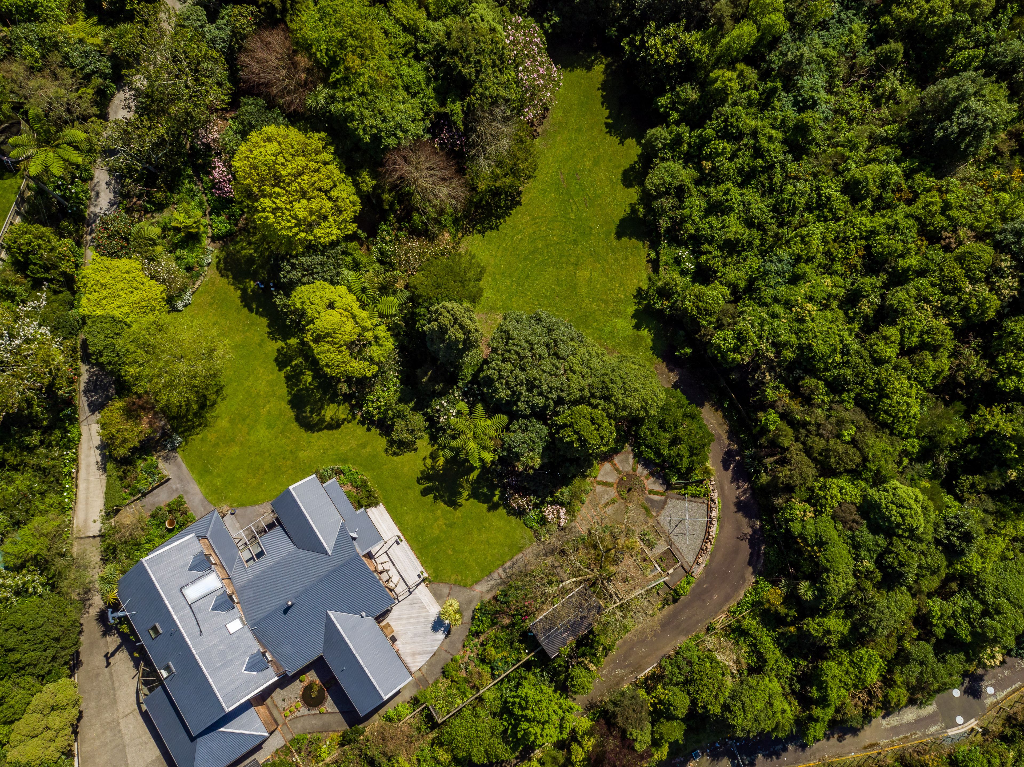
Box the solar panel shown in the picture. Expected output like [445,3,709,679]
[180,570,222,636]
